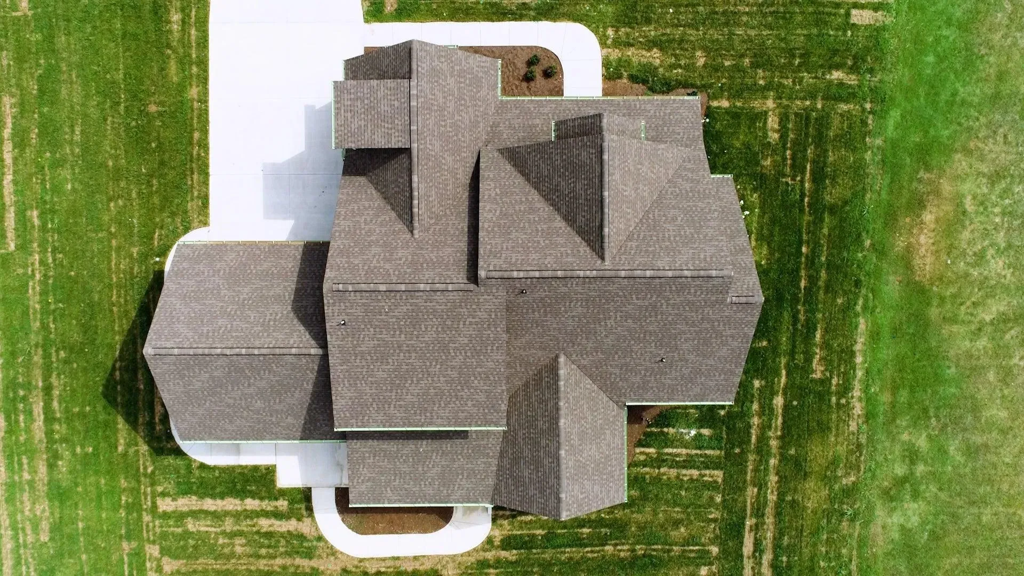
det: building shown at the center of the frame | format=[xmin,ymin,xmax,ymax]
[144,40,763,519]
